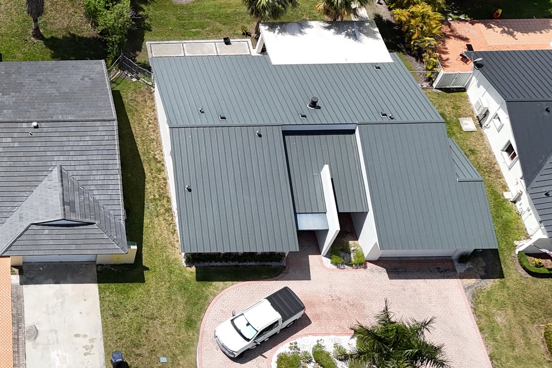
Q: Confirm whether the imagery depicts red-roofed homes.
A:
No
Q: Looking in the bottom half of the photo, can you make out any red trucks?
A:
No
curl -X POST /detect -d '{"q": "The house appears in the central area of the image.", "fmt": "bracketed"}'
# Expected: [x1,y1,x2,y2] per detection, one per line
[149,52,498,262]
